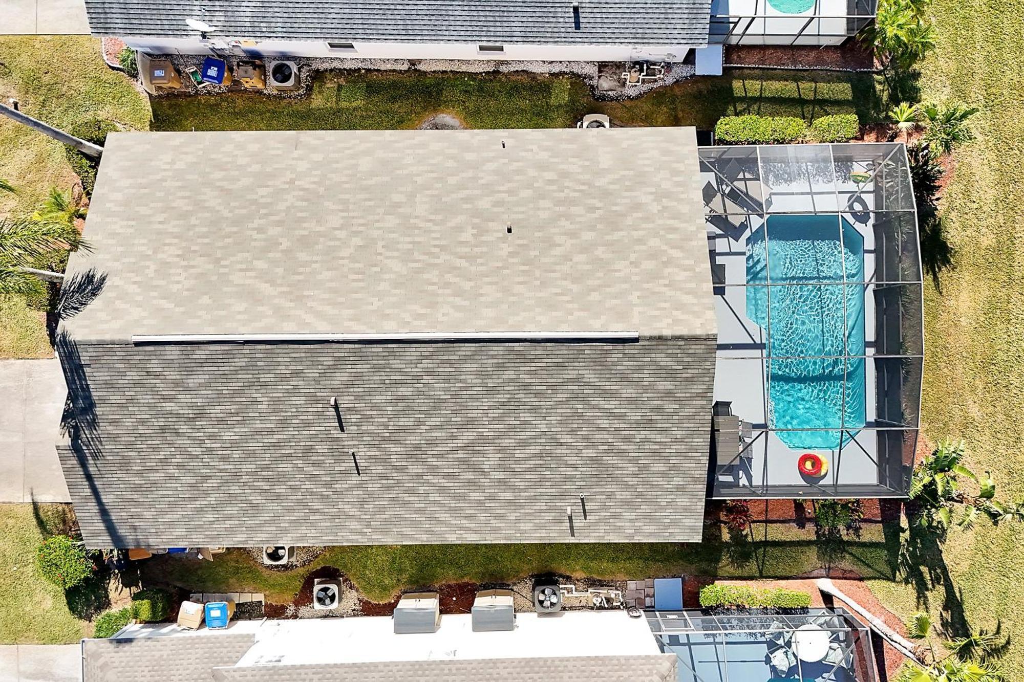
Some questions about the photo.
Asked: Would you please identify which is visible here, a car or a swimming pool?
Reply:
swimming pool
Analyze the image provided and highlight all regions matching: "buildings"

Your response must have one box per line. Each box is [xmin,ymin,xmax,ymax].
[84,0,714,62]
[70,612,679,682]
[57,126,718,550]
